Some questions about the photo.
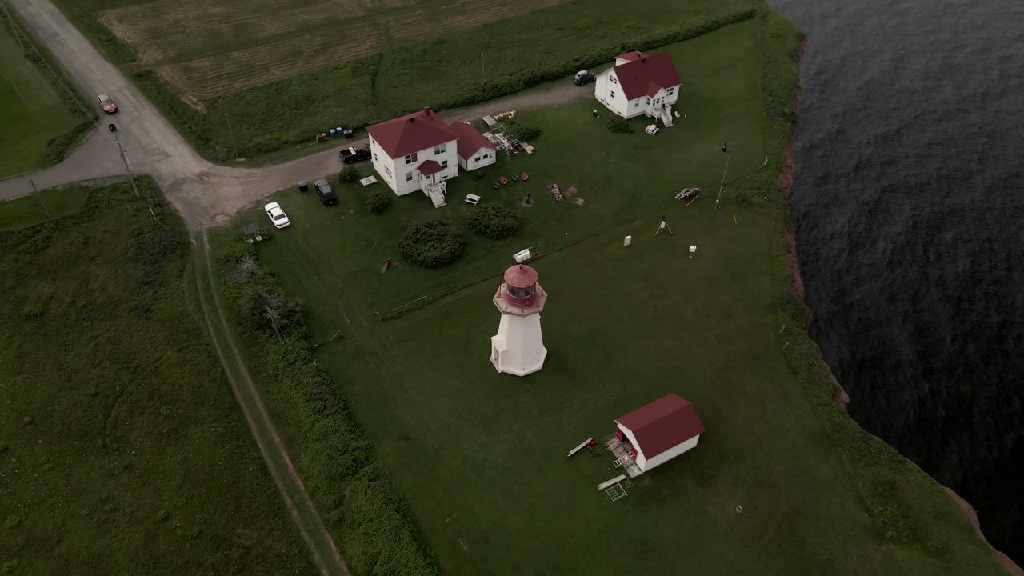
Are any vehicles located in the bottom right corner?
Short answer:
No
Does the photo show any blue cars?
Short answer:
No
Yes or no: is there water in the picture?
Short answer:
Yes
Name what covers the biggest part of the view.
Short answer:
grass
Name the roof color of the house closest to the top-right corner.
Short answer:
red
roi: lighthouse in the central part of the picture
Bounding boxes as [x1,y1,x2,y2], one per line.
[486,262,548,377]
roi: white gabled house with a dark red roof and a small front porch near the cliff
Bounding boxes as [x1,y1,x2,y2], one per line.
[592,50,682,126]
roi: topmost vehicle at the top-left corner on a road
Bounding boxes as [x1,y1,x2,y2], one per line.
[96,91,116,110]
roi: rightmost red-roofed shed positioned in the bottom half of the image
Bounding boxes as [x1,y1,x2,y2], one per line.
[599,398,703,479]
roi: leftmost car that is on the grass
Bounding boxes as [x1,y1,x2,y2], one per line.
[264,202,290,226]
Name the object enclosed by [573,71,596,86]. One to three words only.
car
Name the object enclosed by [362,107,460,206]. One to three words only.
house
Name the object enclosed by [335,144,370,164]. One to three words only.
vehicle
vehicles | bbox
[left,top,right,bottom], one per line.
[264,202,290,226]
[312,181,336,202]
[335,144,370,164]
[573,71,596,86]
[96,91,116,110]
